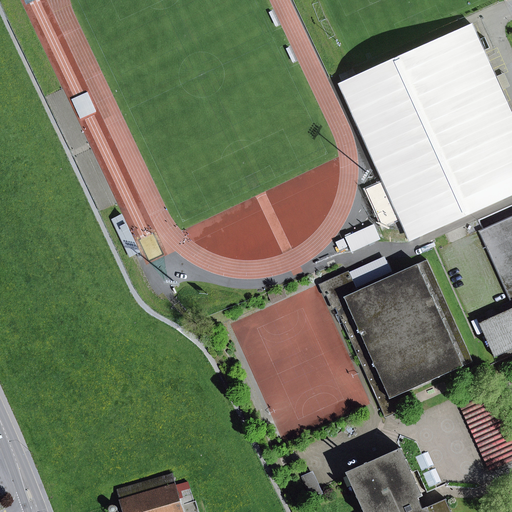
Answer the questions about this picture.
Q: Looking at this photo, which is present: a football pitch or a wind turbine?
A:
football pitch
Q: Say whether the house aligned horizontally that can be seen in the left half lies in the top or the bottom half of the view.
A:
bottom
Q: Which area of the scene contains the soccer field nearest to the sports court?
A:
top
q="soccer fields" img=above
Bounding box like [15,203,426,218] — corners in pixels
[326,0,462,50]
[71,0,338,258]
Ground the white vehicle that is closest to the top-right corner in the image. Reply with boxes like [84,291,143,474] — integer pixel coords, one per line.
[416,242,436,254]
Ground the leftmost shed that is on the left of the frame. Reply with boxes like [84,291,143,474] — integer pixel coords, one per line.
[112,214,140,257]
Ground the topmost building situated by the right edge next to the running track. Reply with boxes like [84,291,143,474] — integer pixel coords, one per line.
[338,24,512,241]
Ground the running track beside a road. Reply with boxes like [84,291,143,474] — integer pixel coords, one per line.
[48,0,360,278]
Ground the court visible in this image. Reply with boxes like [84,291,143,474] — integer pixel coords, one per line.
[232,286,369,438]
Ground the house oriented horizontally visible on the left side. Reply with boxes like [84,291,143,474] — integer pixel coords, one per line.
[116,473,198,512]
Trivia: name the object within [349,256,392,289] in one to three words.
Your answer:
building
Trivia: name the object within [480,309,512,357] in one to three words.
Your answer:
building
